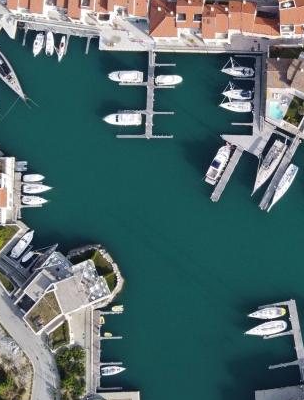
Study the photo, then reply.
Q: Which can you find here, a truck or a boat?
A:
boat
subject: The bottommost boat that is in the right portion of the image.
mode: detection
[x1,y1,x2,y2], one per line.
[243,320,288,343]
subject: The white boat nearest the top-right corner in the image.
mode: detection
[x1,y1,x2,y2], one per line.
[219,62,256,77]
